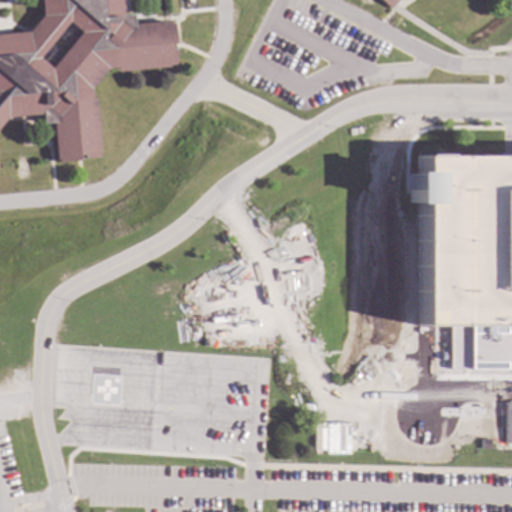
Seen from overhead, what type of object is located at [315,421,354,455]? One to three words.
shed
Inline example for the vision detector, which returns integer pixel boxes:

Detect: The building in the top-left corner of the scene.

[0,0,180,162]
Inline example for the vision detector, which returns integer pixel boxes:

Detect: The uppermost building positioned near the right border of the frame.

[408,153,512,324]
